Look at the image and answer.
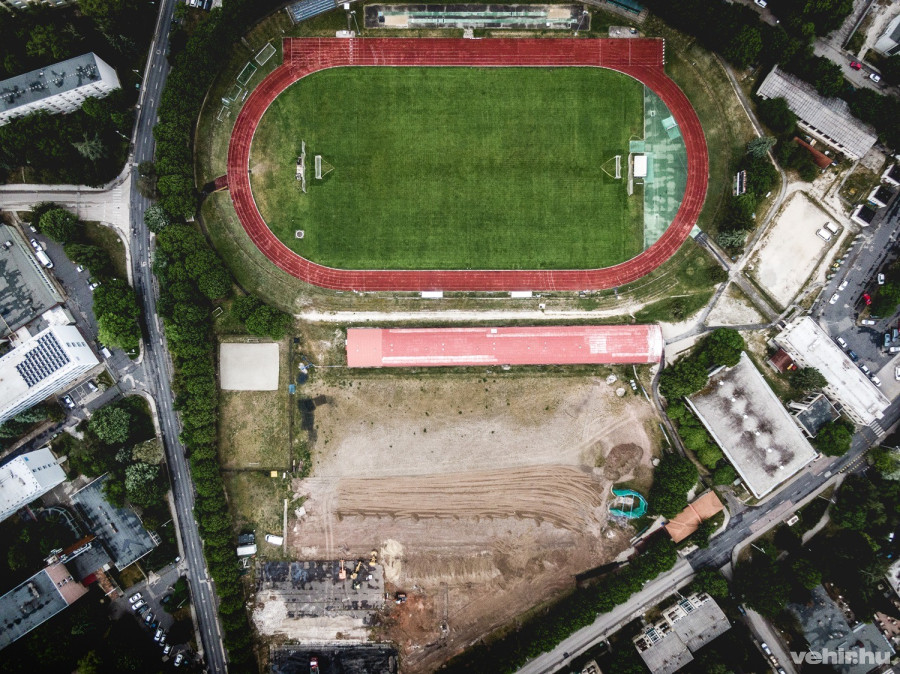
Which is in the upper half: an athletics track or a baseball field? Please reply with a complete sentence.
Visible in the upper half is an athletics track.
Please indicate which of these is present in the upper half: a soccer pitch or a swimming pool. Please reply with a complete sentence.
There is a soccer pitch in the upper half.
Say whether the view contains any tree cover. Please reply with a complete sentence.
Yes, some tree cover is visible.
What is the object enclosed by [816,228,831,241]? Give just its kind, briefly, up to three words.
vehicle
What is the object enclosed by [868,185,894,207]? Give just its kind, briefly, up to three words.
house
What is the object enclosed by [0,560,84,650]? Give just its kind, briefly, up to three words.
building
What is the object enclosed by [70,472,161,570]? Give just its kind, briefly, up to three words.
building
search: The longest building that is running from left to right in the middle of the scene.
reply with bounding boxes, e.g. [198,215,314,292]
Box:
[346,324,663,367]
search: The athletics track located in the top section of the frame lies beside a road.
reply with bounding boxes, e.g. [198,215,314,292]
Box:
[228,38,708,291]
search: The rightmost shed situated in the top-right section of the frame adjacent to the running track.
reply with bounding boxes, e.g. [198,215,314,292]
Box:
[754,66,877,160]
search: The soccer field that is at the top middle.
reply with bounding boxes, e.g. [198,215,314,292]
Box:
[249,68,642,270]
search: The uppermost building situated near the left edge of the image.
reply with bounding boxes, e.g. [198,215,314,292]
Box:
[0,52,122,128]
